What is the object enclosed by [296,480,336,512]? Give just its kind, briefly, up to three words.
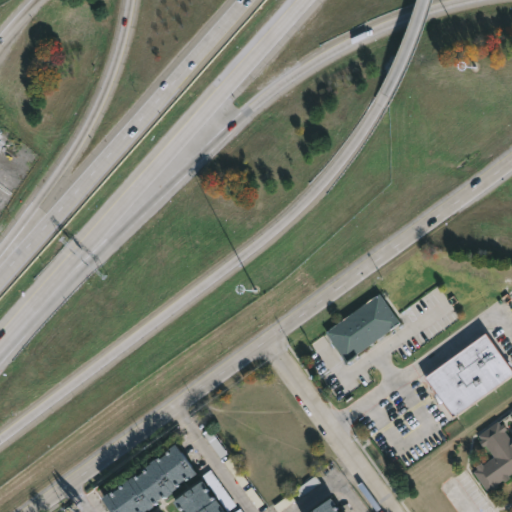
shed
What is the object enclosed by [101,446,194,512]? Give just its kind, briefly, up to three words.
building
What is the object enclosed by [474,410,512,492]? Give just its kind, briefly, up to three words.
house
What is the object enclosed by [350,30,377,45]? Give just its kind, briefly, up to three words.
vehicle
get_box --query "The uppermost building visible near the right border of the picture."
[426,334,512,416]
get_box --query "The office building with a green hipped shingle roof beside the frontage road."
[326,294,400,364]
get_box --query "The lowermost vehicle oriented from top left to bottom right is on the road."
[360,482,388,512]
